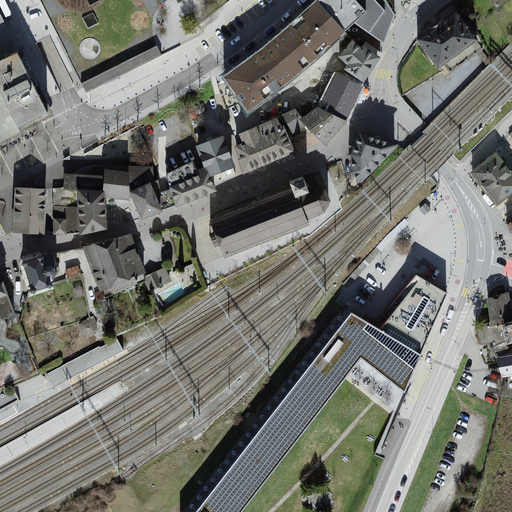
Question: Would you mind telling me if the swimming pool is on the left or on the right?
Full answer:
The swimming pool appears in the left half of the scene.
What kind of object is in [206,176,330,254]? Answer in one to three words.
building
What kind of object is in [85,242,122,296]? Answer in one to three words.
barn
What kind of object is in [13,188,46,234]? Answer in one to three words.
house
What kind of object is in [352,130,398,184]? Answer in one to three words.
house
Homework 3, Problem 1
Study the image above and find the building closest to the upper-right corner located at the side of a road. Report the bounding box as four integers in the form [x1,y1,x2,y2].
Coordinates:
[418,12,476,68]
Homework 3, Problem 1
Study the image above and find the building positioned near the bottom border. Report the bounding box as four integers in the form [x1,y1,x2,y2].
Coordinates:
[196,312,422,512]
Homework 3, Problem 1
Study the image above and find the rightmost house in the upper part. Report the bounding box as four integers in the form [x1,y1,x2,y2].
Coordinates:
[471,153,512,206]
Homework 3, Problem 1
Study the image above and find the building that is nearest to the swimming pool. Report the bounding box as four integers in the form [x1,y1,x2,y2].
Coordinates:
[144,268,172,292]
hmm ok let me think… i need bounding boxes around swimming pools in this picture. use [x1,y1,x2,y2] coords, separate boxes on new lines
[157,283,185,304]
